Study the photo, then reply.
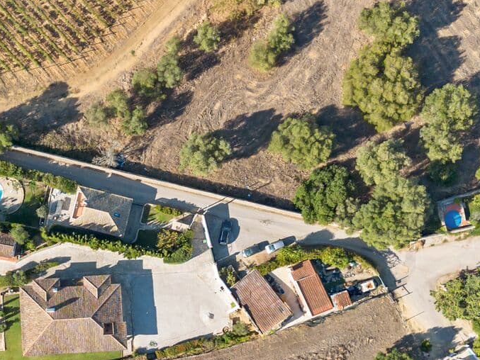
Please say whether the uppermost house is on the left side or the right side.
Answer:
left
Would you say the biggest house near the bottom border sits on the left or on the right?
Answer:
left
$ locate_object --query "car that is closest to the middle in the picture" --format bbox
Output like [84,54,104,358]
[222,220,234,244]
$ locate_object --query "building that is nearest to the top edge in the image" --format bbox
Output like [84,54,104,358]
[70,186,133,237]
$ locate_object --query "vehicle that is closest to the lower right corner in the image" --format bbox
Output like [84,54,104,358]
[359,279,377,292]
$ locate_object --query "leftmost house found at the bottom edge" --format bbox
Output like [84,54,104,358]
[19,275,126,357]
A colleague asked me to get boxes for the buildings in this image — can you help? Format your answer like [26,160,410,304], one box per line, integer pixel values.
[0,237,21,263]
[288,261,333,318]
[330,290,351,310]
[19,275,126,357]
[231,270,292,332]
[70,186,133,237]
